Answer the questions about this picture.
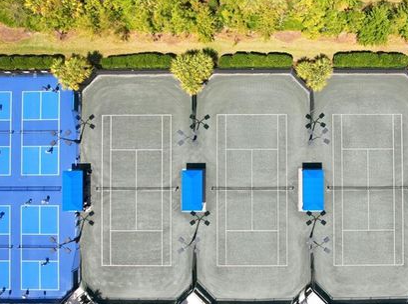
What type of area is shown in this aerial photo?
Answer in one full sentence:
This image shows a sports ground.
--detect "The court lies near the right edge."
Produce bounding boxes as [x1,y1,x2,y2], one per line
[311,74,408,304]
